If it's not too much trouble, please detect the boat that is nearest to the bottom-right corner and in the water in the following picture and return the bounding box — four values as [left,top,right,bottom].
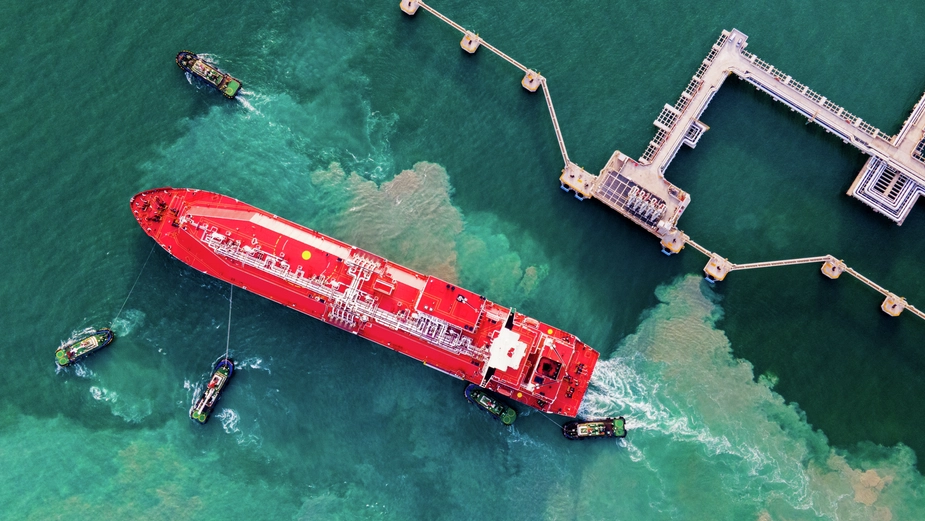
[562,417,627,439]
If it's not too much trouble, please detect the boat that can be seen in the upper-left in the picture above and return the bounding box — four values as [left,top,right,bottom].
[176,52,245,101]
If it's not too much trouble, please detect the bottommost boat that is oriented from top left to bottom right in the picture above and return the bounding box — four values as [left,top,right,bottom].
[464,384,519,426]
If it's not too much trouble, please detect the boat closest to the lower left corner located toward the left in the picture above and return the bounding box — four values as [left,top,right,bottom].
[52,327,117,368]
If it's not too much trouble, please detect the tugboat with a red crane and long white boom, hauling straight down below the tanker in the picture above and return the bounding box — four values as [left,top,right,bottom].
[191,355,234,423]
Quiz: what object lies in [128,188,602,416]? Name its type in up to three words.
ship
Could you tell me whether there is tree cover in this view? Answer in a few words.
No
